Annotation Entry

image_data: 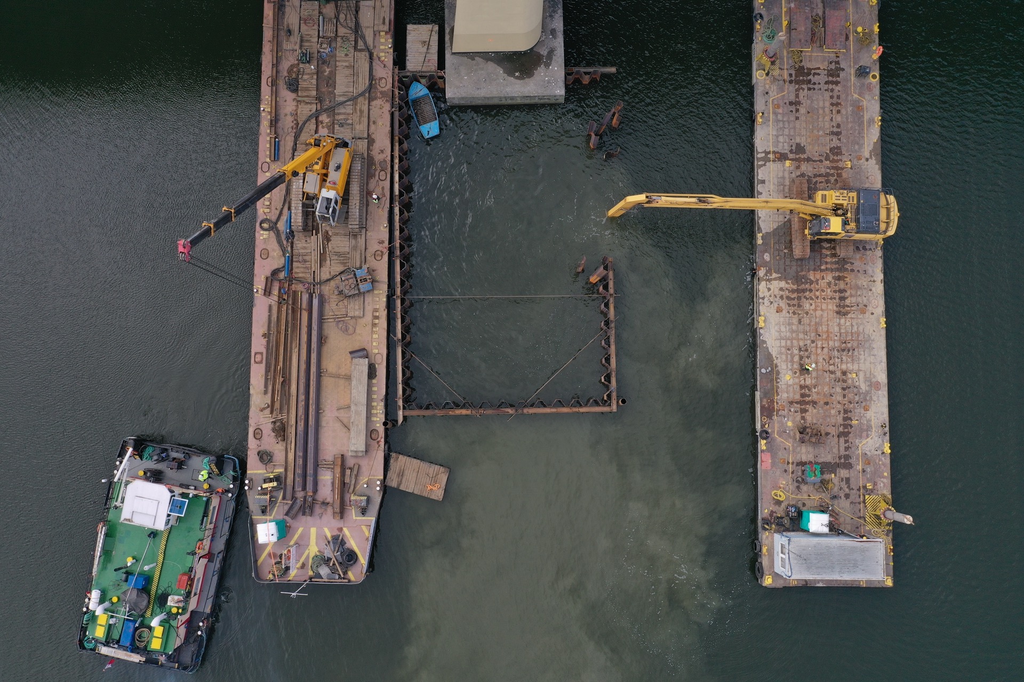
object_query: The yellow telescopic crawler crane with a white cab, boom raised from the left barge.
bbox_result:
[176,133,366,312]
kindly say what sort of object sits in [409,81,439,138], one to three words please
boat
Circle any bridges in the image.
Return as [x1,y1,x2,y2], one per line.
[445,0,564,104]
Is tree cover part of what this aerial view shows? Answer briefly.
No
